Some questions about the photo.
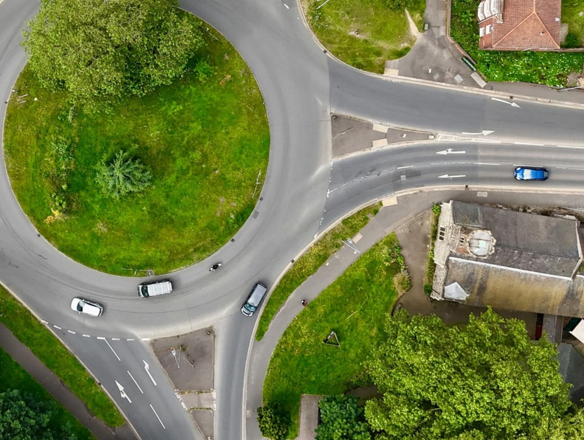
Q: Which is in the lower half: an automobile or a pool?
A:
automobile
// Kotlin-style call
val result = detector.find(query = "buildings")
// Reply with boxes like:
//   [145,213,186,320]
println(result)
[474,0,562,53]
[428,199,584,316]
[538,339,584,408]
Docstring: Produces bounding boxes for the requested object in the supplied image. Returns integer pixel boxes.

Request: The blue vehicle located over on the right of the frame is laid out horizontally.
[513,165,549,182]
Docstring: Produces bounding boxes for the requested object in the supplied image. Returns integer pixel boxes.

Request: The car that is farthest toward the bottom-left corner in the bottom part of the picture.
[70,296,104,317]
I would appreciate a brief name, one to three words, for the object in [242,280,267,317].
vehicle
